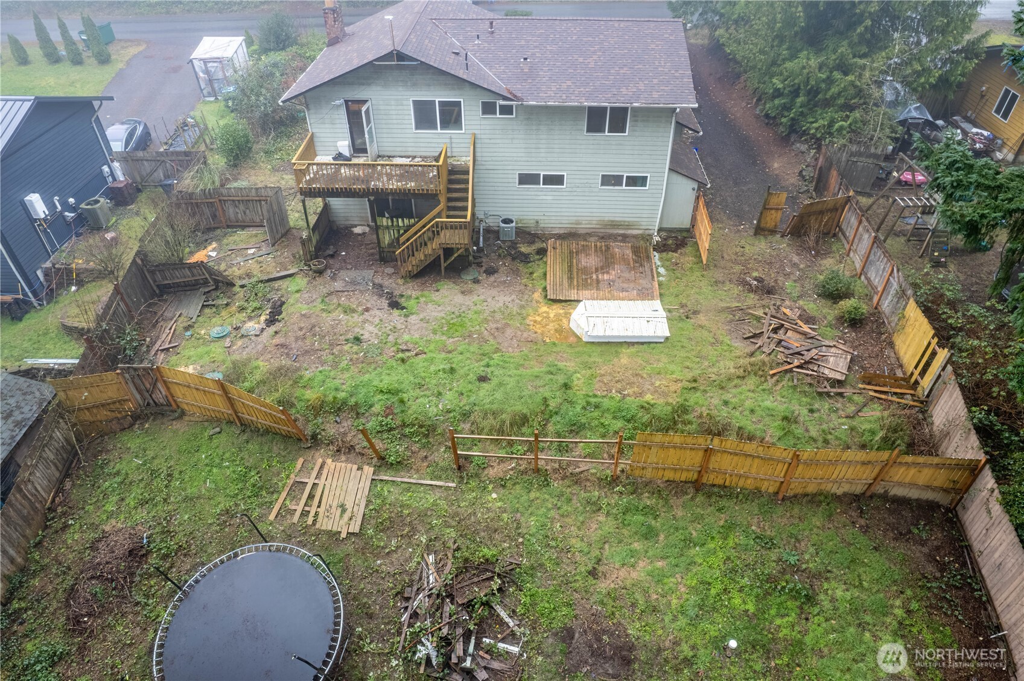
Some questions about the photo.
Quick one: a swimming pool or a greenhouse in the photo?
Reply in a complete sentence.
Of the two, only a greenhouse appears.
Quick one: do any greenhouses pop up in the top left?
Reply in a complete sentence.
Yes, a greenhouse can be seen in the top left.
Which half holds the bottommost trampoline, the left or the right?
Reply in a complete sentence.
The bottommost trampoline appears in the left half of the scene.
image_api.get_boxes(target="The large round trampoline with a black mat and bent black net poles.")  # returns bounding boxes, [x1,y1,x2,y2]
[137,513,348,681]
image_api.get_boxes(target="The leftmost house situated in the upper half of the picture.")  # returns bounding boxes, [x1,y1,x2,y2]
[0,93,111,297]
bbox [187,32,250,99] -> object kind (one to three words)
greenhouse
